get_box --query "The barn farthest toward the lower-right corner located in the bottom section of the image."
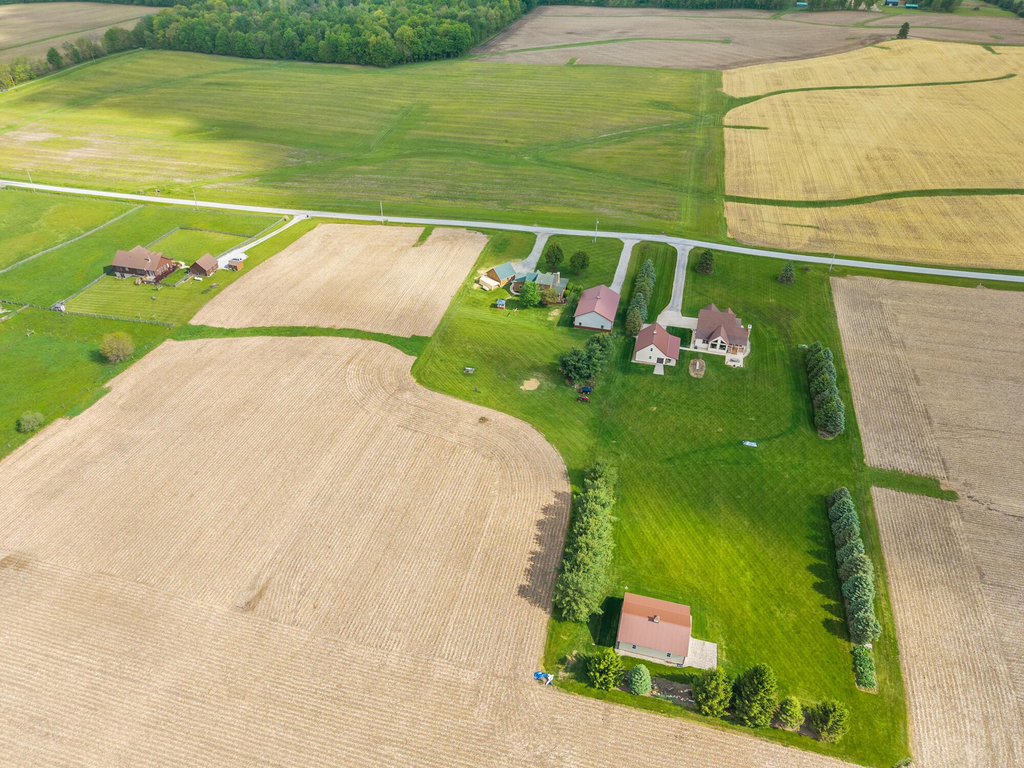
[618,592,691,667]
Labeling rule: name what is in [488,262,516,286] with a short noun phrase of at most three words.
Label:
building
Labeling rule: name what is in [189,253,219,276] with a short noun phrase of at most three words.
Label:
building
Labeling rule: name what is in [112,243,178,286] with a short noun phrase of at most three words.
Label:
house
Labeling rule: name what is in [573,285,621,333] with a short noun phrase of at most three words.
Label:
barn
